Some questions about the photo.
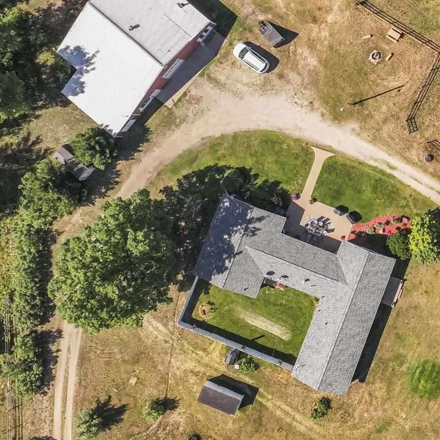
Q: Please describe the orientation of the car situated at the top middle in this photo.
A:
at an angle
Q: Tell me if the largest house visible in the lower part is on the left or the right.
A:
right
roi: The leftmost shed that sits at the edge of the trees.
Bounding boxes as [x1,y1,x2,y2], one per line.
[54,146,94,179]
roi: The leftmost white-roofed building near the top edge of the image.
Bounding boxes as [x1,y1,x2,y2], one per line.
[57,0,213,138]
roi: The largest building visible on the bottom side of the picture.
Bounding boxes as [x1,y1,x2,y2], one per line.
[195,194,397,397]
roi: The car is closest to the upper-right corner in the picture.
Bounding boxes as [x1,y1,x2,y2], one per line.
[231,46,267,76]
